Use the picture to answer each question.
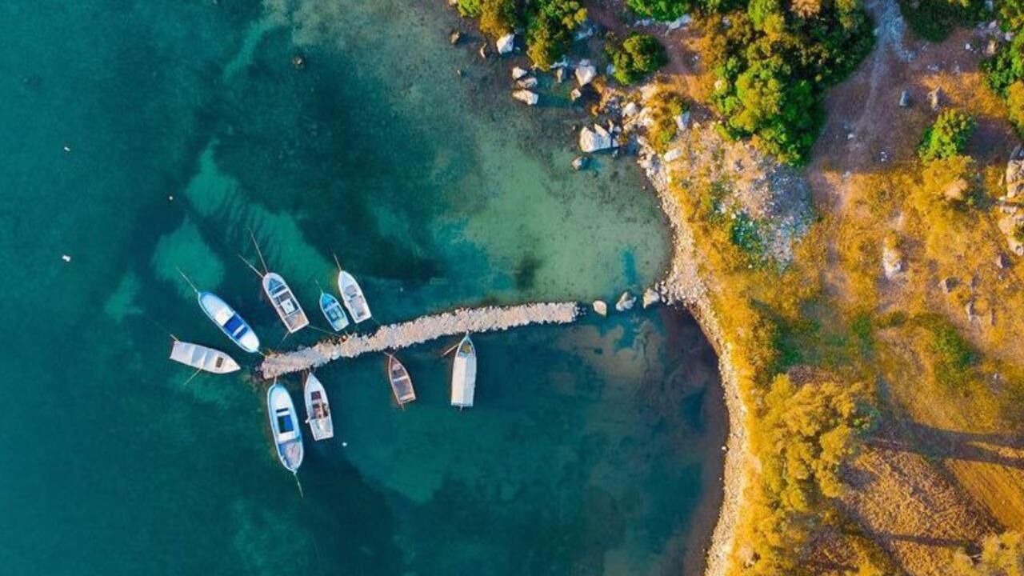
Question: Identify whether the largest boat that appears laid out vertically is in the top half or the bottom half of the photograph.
bottom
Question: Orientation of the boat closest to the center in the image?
from top to bottom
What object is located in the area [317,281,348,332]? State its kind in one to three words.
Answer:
boat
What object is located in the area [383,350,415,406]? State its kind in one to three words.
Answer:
boat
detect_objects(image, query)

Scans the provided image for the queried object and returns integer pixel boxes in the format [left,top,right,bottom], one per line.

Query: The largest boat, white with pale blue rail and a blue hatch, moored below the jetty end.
[266,373,305,497]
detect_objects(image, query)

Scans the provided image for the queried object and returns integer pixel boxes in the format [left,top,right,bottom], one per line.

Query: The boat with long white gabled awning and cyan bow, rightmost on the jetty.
[451,335,476,410]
